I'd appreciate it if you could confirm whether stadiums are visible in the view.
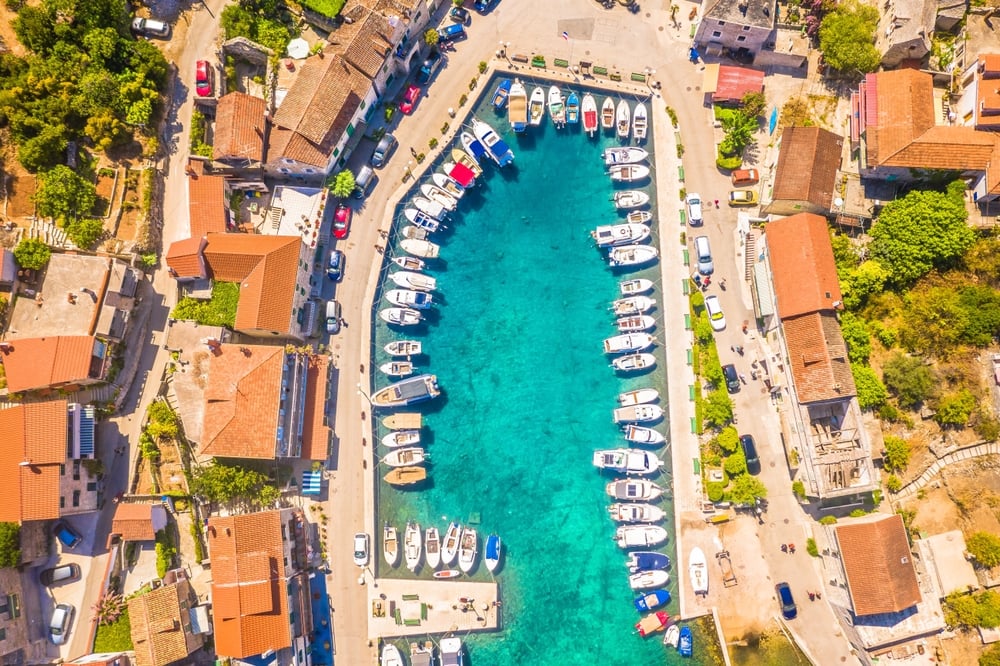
No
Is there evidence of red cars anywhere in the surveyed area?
Yes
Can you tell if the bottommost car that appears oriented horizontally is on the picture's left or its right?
left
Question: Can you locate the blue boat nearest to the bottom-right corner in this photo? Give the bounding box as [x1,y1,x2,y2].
[675,620,692,656]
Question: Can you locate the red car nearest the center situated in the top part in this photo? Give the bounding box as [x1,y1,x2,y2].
[333,204,353,238]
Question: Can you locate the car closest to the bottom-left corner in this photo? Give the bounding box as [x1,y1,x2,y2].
[49,601,77,645]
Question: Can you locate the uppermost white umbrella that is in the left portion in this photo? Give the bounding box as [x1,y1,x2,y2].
[288,39,309,61]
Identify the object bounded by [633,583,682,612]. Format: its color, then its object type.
blue boat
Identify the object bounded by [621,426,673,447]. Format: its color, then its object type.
white boat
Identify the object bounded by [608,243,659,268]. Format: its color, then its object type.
white boat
